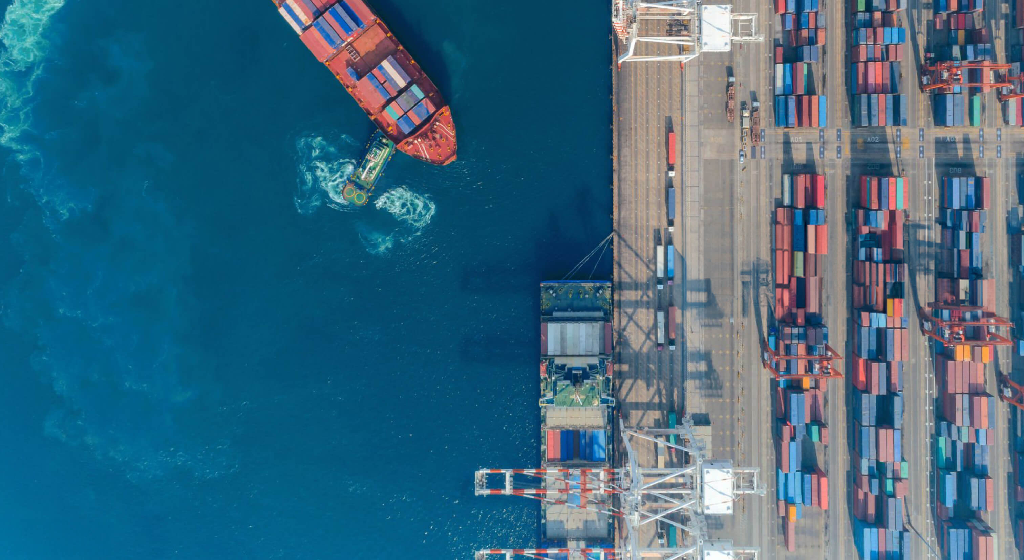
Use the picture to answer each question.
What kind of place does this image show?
port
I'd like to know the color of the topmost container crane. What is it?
white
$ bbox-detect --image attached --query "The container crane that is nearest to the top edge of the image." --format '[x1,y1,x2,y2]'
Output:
[611,0,769,73]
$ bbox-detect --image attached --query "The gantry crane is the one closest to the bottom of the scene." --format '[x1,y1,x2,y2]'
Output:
[475,478,759,560]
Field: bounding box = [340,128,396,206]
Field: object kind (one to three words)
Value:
boat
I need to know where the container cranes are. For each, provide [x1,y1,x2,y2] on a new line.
[923,305,1014,347]
[475,478,759,560]
[475,407,769,527]
[922,59,1012,94]
[611,0,769,73]
[1004,372,1024,411]
[764,337,846,380]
